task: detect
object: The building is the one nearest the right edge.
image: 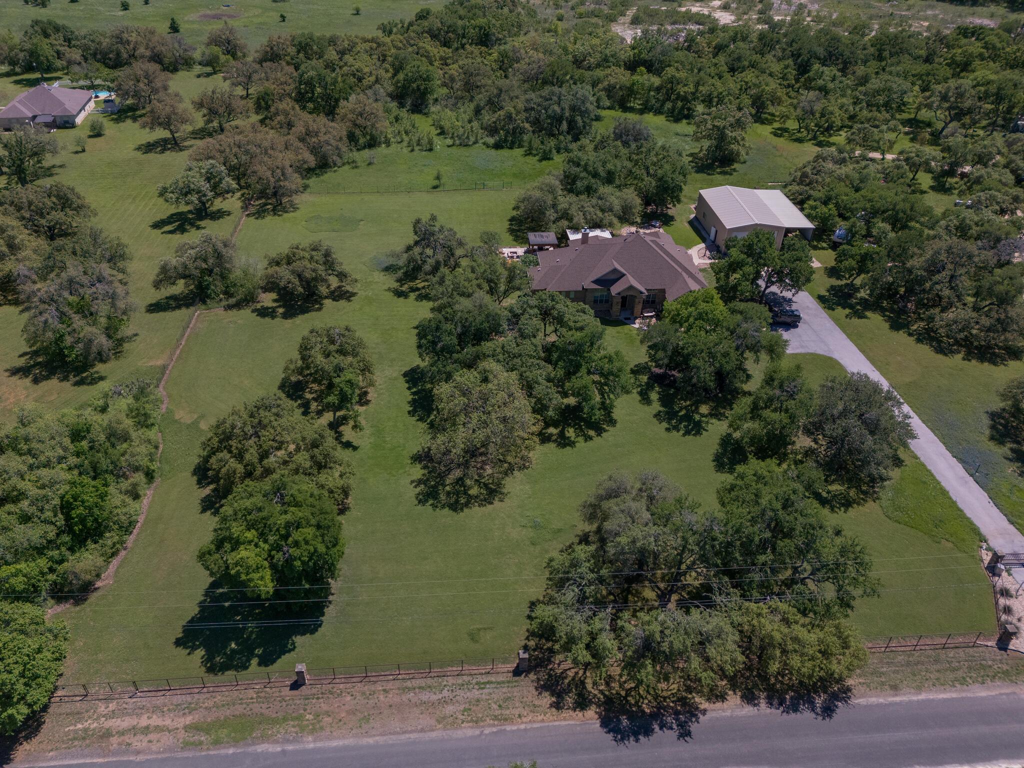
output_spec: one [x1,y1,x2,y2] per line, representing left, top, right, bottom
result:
[697,186,816,253]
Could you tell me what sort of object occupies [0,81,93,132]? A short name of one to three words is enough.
house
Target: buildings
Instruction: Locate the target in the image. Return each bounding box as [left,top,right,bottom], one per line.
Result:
[697,186,816,253]
[0,81,93,132]
[527,225,707,323]
[102,97,122,111]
